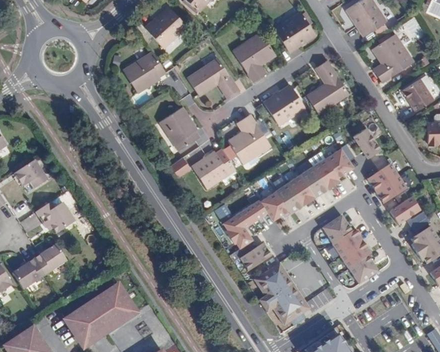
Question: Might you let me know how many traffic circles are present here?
1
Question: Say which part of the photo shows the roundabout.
top left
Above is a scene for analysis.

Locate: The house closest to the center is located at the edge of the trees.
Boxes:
[194,144,238,190]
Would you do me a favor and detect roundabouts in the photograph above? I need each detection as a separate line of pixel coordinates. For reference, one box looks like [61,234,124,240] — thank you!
[22,18,98,94]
